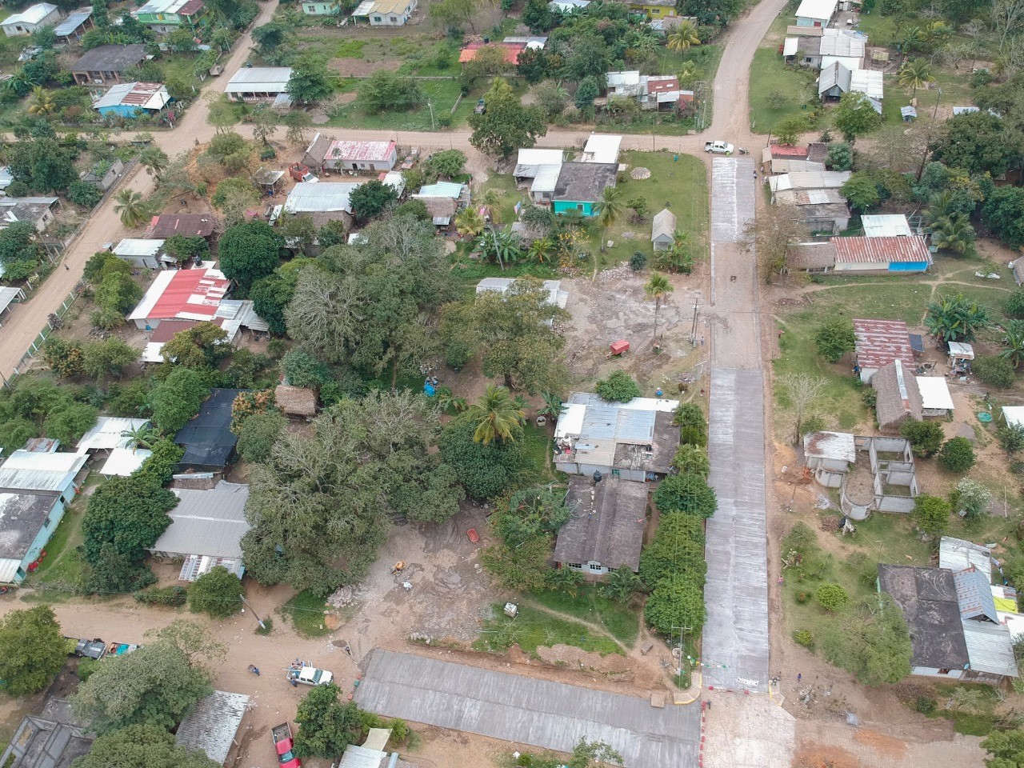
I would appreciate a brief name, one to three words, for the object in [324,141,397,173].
house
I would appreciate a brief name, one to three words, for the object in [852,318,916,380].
house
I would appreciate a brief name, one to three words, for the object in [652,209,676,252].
shed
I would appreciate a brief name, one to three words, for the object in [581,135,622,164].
shed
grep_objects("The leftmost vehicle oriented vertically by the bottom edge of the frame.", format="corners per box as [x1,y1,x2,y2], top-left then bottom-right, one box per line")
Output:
[269,716,294,768]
